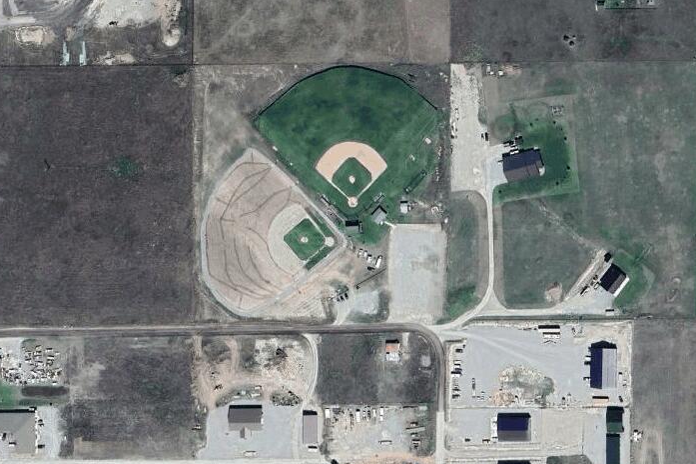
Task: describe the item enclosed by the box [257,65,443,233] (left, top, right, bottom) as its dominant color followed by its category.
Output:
green baseball field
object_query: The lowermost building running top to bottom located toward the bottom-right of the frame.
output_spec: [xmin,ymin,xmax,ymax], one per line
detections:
[607,436,621,464]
